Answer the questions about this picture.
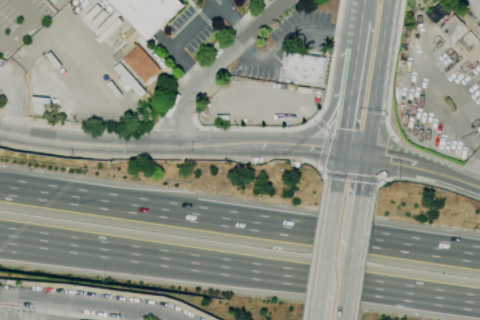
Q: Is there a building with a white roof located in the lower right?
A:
No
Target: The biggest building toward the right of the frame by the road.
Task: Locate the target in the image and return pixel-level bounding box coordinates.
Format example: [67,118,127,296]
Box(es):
[282,53,327,86]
